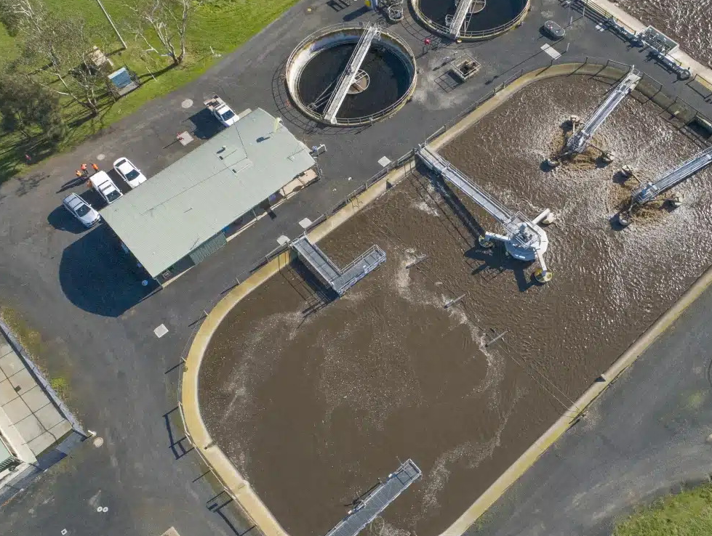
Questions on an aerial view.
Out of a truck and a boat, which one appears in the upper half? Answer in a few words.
truck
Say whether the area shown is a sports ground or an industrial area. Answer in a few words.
industrial area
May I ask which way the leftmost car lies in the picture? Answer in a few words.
at an angle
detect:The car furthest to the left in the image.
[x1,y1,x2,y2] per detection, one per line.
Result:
[61,193,100,229]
